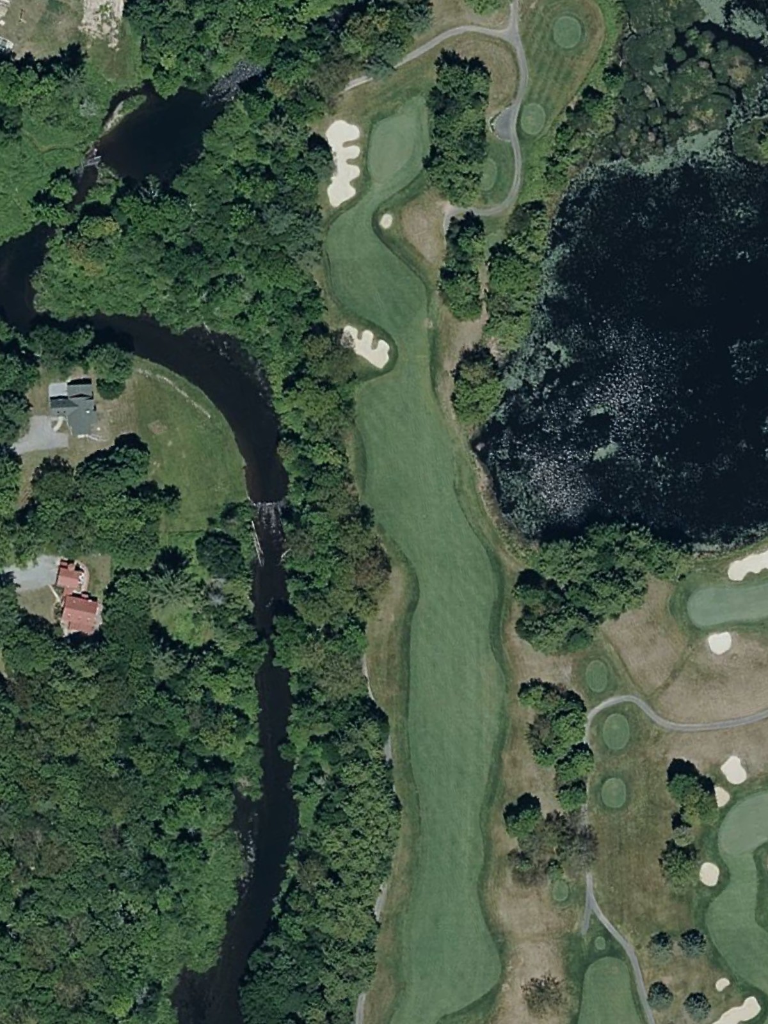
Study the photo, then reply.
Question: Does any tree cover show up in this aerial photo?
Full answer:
Yes, some tree cover is visible.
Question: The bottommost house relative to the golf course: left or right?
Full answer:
Compared with the golf course, the bottommost house is located further to the left.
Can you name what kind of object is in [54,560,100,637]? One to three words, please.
house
